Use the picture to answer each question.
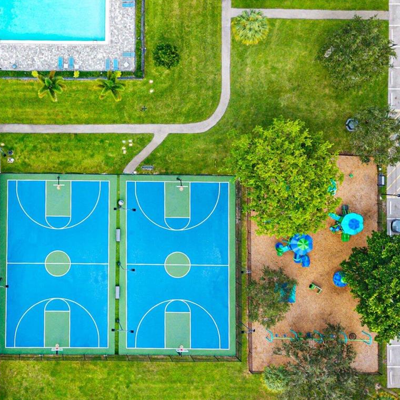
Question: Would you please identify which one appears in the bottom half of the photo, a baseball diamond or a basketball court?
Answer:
basketball court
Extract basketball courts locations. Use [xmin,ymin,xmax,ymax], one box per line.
[120,175,236,356]
[0,175,117,355]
